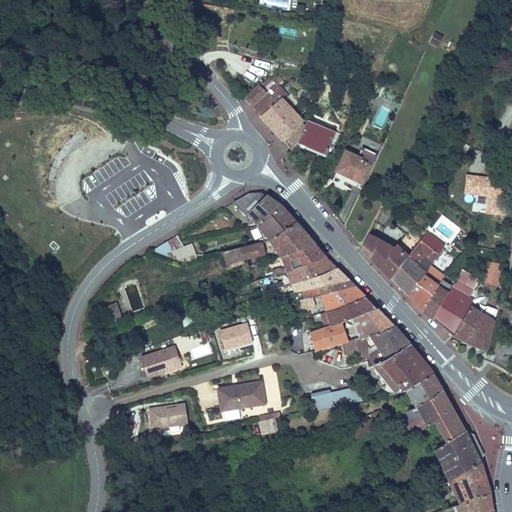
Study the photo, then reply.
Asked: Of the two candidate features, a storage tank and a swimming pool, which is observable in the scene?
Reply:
swimming pool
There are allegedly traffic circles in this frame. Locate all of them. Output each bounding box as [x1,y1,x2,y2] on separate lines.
[200,120,280,196]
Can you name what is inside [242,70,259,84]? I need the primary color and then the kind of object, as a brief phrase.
white vehicle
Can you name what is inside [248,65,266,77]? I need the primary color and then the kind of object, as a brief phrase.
white vehicle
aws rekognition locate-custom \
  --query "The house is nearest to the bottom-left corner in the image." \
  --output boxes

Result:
[150,402,188,435]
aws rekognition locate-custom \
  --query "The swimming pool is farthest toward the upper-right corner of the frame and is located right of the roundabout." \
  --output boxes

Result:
[374,106,391,128]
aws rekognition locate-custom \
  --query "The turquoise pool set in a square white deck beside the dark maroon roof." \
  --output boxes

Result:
[432,215,461,244]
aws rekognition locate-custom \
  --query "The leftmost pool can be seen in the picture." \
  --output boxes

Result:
[125,280,144,312]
